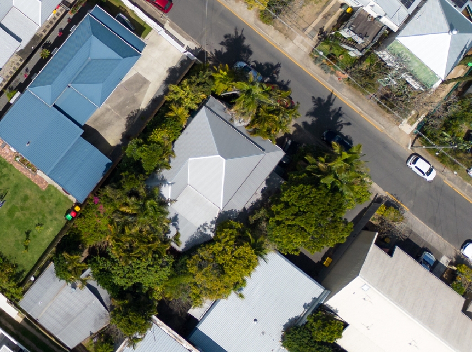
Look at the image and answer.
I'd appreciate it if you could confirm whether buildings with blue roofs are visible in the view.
Yes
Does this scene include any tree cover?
Yes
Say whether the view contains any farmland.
No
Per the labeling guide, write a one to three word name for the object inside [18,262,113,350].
shed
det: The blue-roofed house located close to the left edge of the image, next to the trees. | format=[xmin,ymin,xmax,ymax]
[0,5,147,204]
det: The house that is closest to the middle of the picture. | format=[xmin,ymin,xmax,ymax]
[141,93,285,253]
